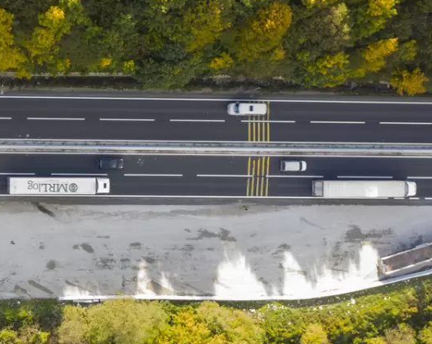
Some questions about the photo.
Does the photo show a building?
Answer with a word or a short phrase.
No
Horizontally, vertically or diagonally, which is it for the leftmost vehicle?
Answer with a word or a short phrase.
horizontally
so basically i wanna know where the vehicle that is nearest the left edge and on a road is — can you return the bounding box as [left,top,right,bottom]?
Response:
[6,175,107,195]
